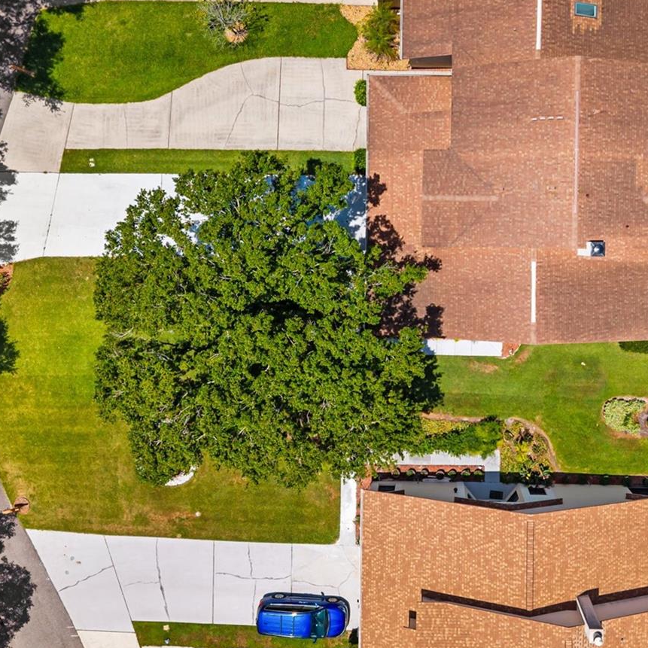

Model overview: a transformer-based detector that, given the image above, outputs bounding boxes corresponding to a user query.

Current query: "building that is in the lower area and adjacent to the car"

[360,481,648,648]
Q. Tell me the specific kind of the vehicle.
automobile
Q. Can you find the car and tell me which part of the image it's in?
bottom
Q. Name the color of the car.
blue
